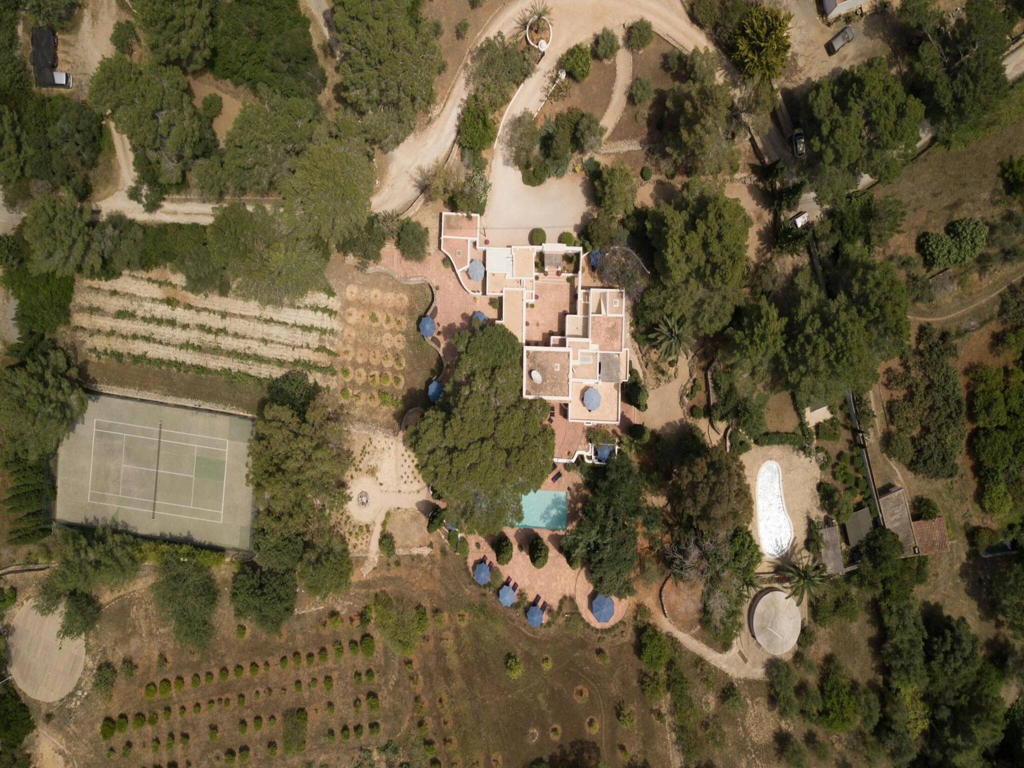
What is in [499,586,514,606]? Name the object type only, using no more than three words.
umbrella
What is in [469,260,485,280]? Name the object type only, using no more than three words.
umbrella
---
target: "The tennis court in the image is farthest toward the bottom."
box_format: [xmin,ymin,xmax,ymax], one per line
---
[54,393,255,550]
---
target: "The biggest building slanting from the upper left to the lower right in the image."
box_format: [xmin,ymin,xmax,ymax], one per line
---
[441,212,636,426]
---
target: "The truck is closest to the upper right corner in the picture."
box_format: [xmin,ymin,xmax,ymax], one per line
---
[825,26,854,57]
